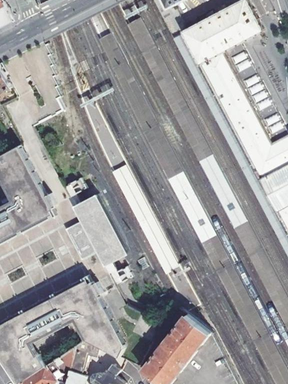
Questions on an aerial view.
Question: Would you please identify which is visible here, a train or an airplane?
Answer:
train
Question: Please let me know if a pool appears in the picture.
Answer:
No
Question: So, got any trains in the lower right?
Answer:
Yes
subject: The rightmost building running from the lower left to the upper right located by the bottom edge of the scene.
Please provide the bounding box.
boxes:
[140,312,213,384]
